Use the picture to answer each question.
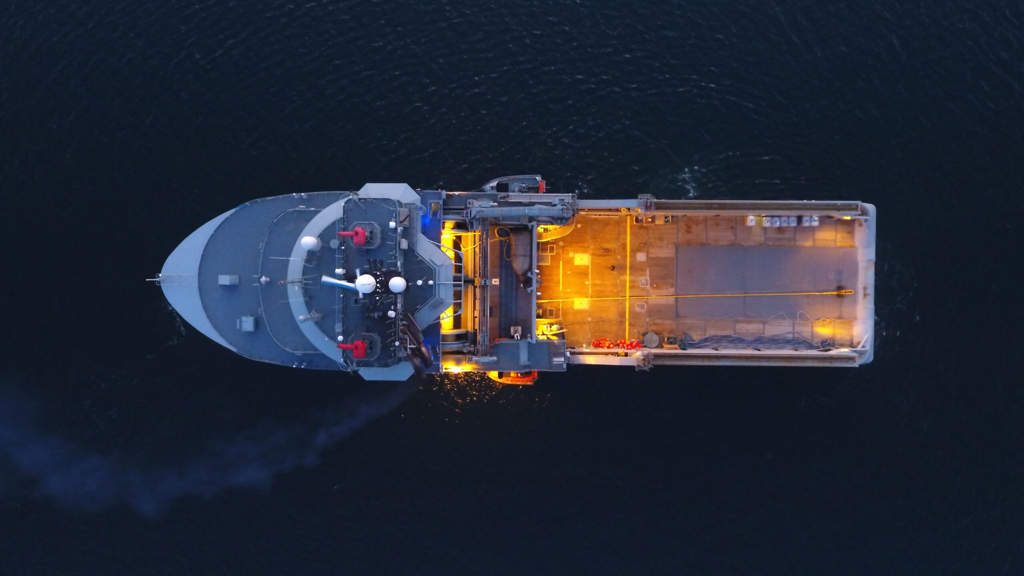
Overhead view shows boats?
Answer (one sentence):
Yes, a boat appears in the view.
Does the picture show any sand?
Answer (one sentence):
No, there's no sand in this view.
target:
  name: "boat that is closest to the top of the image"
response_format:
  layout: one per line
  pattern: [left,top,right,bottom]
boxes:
[482,174,550,207]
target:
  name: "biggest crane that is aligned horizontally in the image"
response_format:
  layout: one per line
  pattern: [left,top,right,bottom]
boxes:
[464,203,576,240]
